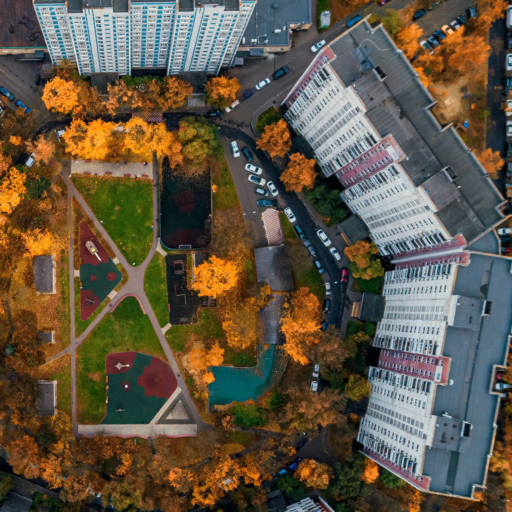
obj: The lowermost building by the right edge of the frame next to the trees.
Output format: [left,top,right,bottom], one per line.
[353,252,512,504]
